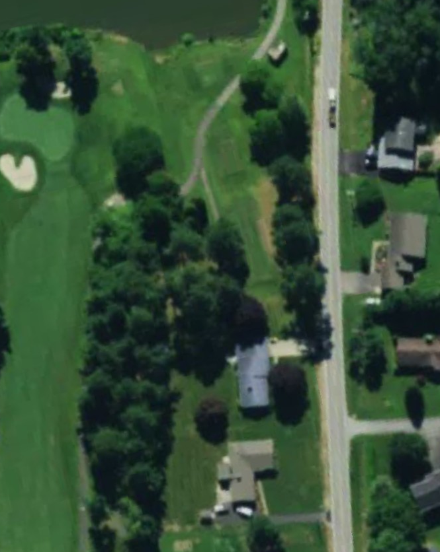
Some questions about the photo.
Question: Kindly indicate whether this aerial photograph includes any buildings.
Yes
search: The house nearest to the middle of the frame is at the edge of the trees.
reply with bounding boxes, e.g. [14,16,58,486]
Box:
[235,338,270,408]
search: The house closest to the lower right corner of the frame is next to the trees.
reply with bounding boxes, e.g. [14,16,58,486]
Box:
[404,467,440,512]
